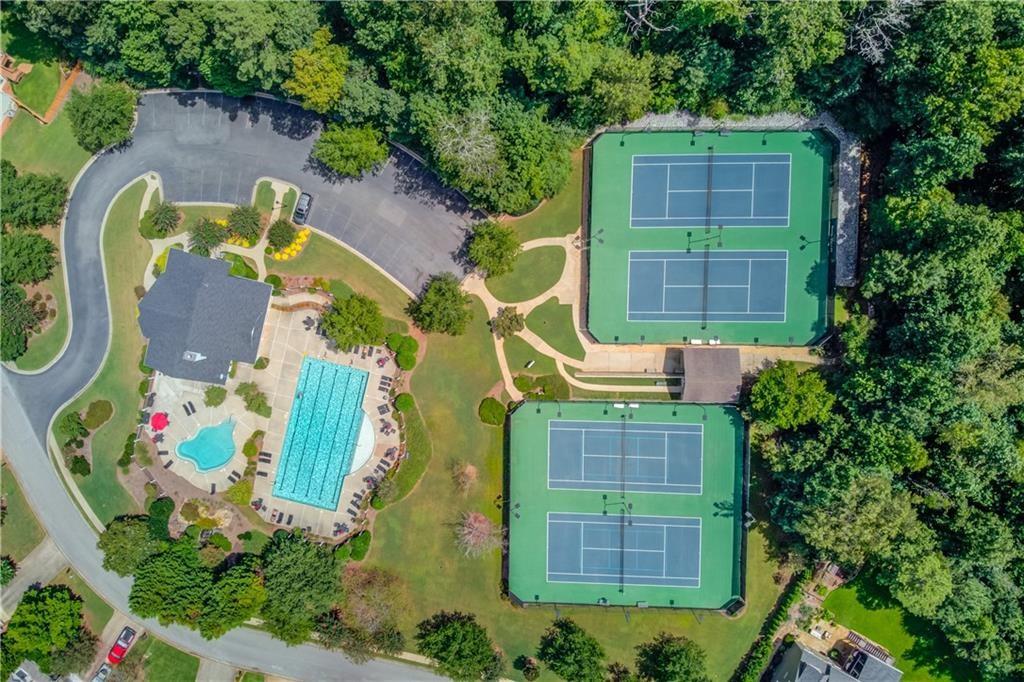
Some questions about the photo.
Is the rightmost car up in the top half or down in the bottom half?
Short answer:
top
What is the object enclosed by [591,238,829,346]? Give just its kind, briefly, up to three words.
tennis court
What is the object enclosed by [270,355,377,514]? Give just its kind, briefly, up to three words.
swimming pool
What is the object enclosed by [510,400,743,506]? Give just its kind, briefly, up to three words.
tennis court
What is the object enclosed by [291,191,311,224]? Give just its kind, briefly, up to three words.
car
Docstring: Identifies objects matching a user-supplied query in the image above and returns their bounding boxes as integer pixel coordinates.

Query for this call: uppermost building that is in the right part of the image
[676,348,742,403]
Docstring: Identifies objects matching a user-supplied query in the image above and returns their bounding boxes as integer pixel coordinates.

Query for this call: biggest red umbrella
[144,417,162,434]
